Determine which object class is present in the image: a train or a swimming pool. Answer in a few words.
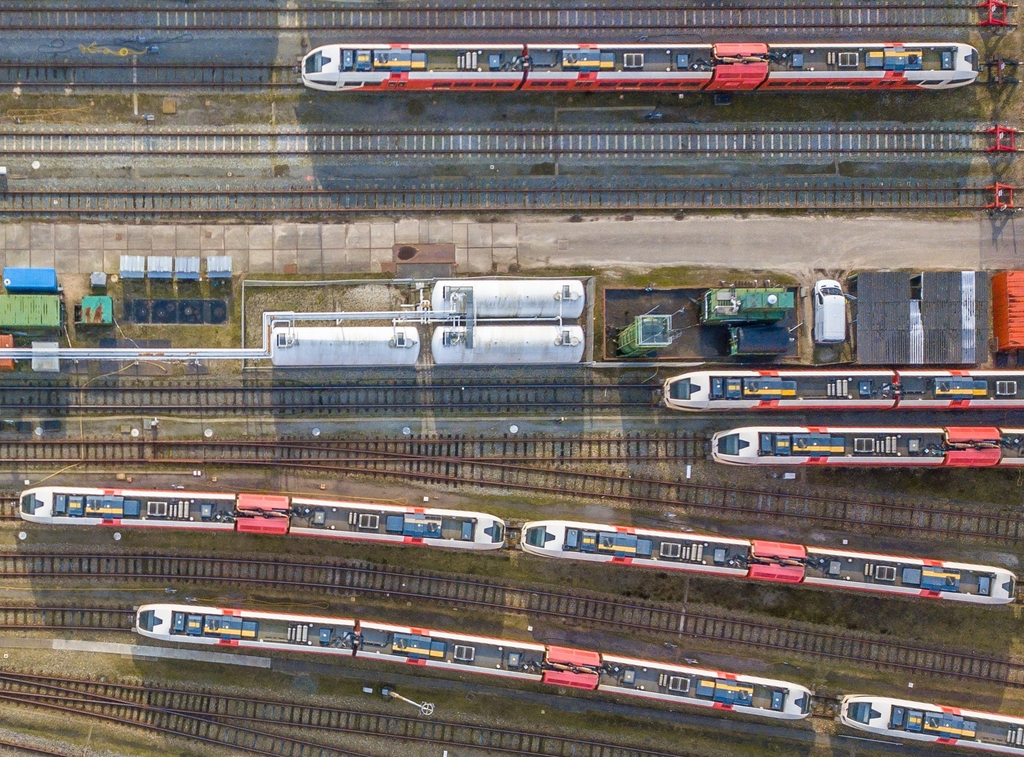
train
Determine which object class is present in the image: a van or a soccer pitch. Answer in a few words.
van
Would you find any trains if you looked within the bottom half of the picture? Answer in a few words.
Yes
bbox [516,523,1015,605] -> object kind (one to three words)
train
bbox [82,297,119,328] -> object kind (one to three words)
shed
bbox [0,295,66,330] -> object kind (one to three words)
shipping container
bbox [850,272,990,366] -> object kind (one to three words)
shed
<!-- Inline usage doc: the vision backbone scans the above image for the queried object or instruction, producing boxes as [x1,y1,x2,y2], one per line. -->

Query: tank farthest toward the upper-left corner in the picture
[273,328,419,366]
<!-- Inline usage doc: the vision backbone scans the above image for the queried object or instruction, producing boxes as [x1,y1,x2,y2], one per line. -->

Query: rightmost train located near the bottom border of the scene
[833,692,1024,755]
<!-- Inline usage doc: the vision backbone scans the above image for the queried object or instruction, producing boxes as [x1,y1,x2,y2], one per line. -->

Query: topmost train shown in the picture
[297,42,984,90]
